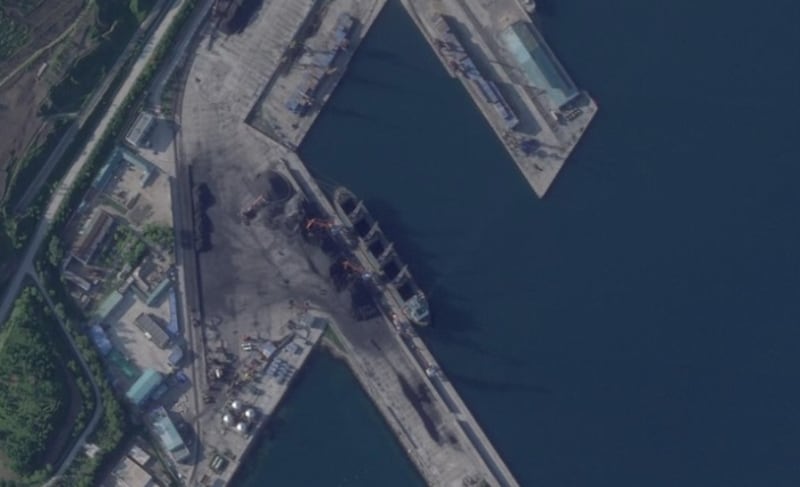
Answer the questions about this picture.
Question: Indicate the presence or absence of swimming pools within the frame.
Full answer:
No, there isn't any swimming pool down there.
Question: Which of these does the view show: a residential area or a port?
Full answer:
The area seen from above is a port.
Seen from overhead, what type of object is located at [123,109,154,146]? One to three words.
building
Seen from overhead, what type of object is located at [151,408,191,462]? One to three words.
building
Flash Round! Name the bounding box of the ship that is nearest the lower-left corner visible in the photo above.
[318,176,430,347]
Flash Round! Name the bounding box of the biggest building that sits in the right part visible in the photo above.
[504,19,580,109]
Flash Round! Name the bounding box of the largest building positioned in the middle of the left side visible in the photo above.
[71,208,112,263]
